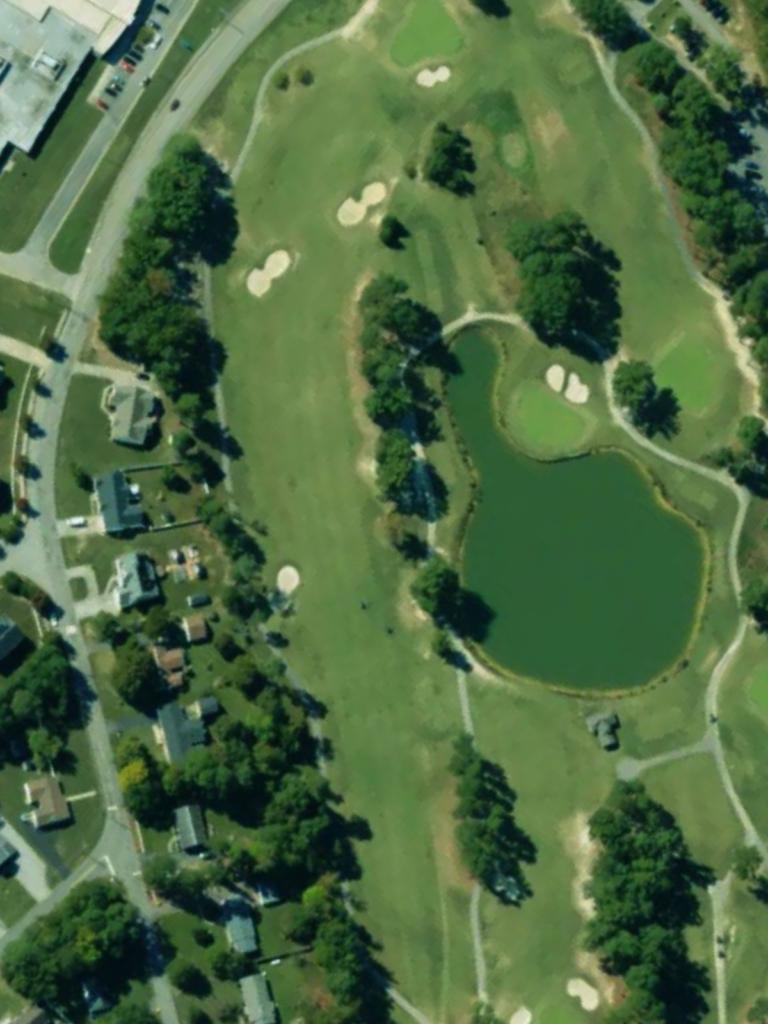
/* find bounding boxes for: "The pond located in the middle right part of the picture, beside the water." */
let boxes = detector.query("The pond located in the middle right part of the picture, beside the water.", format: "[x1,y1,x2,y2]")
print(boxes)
[449,330,705,689]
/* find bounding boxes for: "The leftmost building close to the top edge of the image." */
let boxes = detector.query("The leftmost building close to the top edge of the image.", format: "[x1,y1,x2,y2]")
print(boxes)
[0,0,138,154]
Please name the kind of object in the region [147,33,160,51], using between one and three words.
vehicle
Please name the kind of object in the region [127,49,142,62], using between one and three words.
vehicle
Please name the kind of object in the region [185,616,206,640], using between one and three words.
building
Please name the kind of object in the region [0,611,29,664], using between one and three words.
house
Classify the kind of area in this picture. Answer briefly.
golf course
